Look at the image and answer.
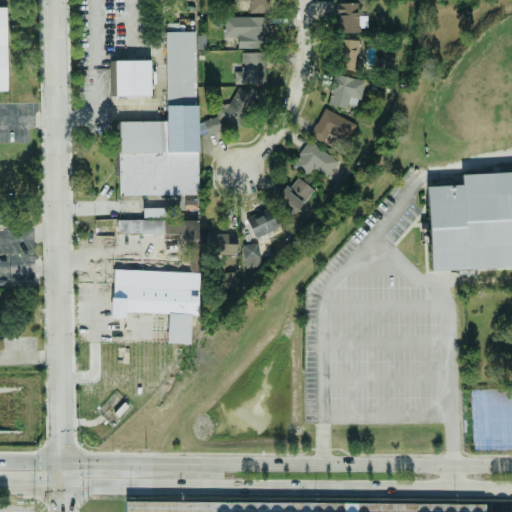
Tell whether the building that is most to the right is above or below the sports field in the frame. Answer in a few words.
below it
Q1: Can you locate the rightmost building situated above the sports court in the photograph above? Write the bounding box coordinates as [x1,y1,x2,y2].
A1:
[422,172,512,271]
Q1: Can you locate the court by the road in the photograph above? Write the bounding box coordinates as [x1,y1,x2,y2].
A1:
[472,390,512,451]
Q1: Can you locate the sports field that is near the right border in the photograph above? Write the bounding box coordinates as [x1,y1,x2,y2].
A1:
[441,16,512,145]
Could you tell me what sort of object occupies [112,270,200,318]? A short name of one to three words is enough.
building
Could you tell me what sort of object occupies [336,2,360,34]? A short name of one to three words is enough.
house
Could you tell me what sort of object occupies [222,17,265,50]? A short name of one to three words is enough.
house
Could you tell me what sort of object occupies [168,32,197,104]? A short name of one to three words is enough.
building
